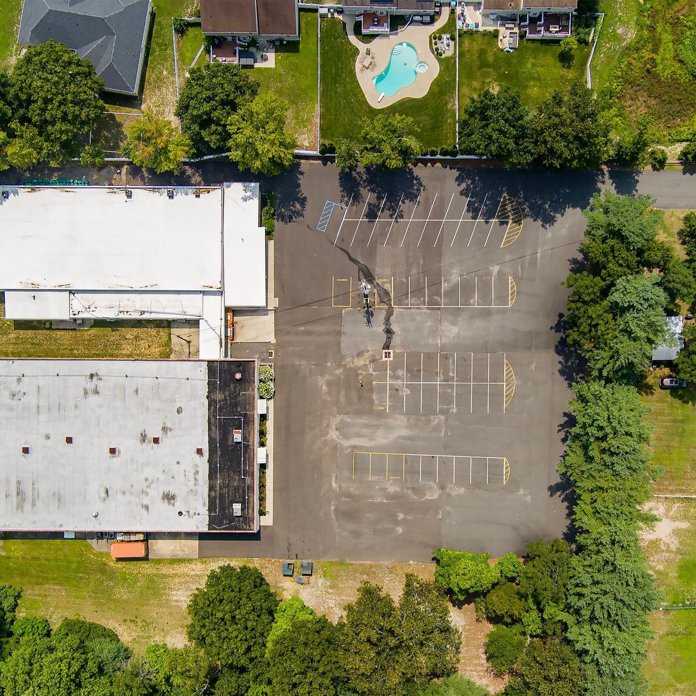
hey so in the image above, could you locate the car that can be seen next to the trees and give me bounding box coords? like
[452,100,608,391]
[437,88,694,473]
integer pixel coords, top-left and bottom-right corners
[660,377,688,389]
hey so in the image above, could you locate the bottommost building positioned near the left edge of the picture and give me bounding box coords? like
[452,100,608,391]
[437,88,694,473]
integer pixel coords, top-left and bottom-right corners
[0,359,260,533]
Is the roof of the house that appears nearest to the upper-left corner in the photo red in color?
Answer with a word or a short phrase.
No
